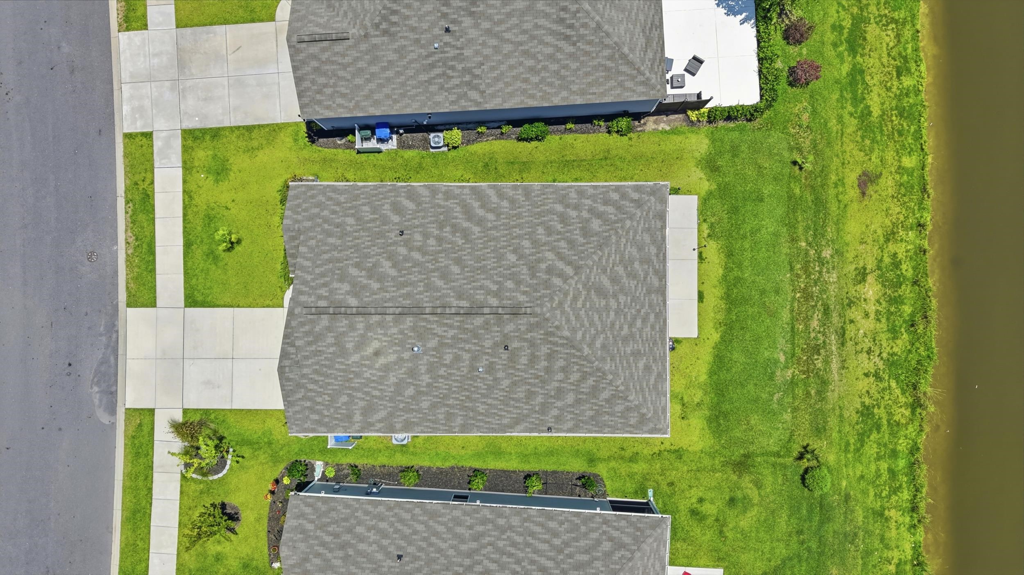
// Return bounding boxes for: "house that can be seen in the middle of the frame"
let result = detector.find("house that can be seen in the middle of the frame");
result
[278,182,672,437]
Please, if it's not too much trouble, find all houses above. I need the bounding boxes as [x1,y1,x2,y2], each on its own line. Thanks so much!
[289,0,668,138]
[281,471,672,575]
[278,182,672,437]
